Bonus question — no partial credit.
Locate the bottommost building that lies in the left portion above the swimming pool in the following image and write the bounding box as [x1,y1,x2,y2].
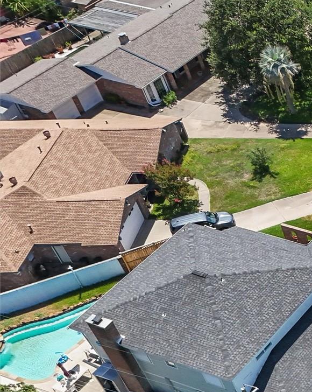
[0,118,184,292]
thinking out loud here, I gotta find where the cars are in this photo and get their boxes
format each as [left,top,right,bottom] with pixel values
[169,206,231,233]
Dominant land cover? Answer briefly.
buildings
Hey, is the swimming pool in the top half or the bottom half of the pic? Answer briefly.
bottom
